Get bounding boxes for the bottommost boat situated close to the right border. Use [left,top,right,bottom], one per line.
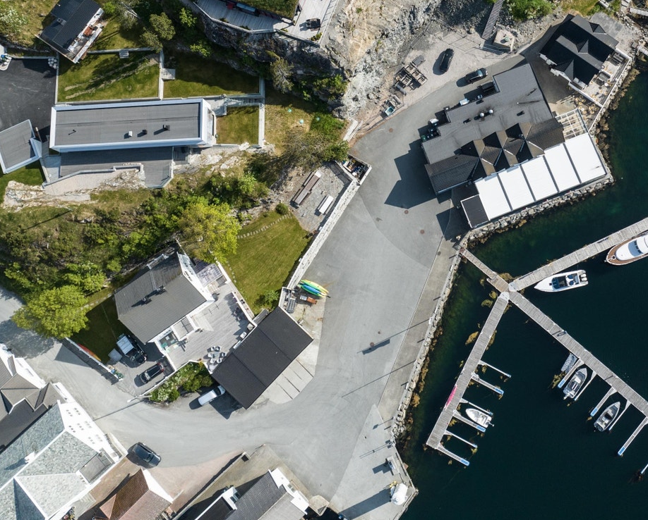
[594,402,619,433]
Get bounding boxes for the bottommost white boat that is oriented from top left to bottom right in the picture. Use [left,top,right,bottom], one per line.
[466,409,493,430]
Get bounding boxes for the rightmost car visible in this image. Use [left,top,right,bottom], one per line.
[461,65,493,85]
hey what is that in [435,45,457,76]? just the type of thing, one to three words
car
